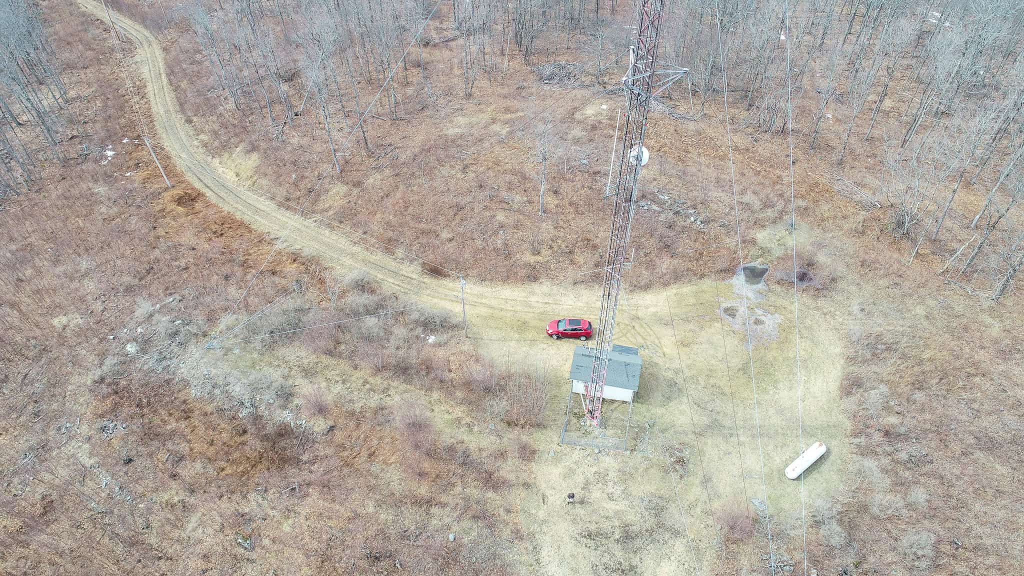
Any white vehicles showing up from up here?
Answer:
No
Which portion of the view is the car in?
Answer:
center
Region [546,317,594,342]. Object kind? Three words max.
car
